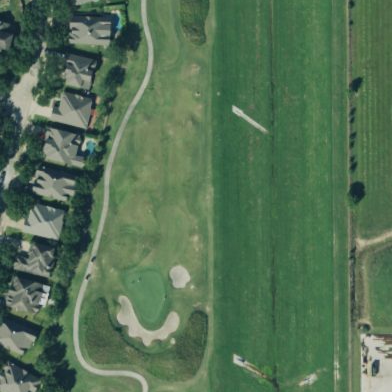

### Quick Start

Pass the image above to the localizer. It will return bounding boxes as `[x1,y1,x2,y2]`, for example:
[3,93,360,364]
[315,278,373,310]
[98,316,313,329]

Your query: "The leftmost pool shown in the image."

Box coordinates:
[82,138,98,158]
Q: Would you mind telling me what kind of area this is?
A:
golf course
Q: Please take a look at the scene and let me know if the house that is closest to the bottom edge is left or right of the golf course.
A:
on the left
